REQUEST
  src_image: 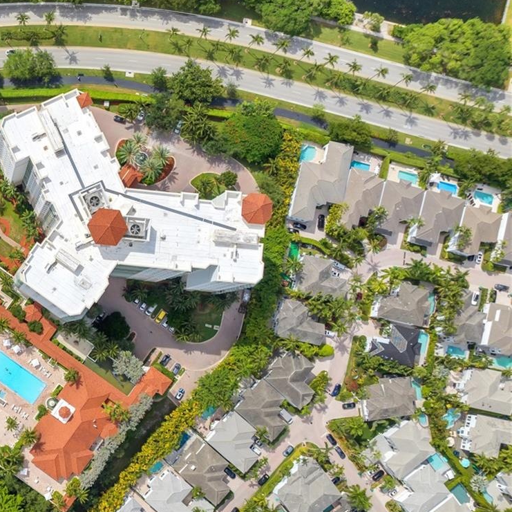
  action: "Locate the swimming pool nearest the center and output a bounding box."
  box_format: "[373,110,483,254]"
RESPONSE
[287,241,300,259]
